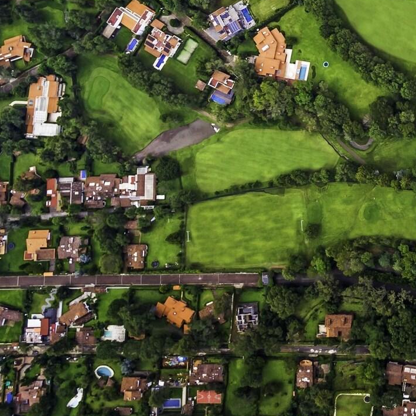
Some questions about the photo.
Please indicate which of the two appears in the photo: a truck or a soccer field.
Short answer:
soccer field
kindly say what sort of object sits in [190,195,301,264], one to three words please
soccer field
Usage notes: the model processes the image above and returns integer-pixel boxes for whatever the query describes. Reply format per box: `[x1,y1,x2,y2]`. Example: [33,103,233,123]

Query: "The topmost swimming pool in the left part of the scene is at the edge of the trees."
[124,35,139,54]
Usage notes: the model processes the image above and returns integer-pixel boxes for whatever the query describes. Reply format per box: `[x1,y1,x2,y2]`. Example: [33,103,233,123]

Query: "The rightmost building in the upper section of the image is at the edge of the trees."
[254,22,302,79]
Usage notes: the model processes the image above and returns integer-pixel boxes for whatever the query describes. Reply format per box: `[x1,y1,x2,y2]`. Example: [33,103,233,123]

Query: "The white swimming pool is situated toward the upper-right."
[295,60,311,81]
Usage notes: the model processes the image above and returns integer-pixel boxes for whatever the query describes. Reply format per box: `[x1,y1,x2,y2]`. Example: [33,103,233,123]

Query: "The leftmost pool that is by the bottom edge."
[67,391,83,409]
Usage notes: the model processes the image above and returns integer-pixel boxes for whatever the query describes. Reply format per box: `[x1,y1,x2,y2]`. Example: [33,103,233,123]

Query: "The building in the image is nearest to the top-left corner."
[0,35,36,68]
